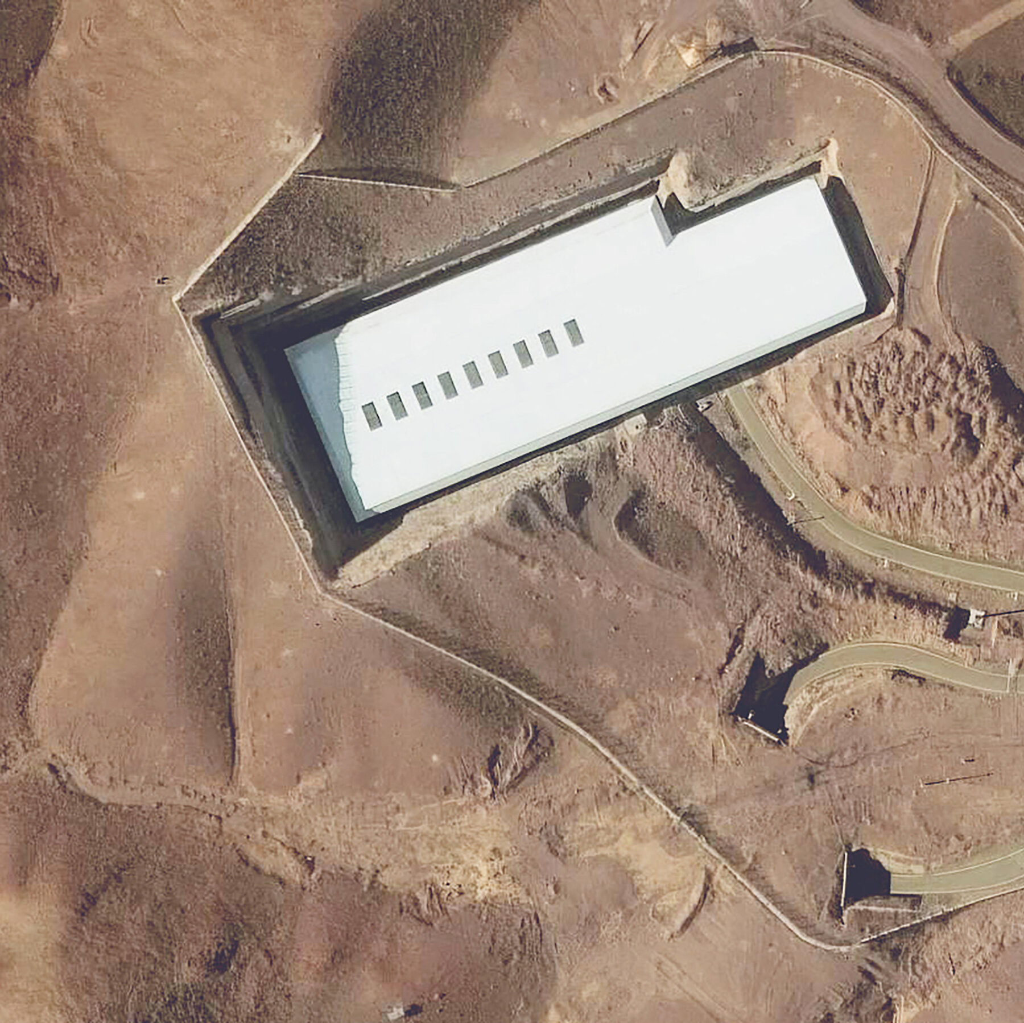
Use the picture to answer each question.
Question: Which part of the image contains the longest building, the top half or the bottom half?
top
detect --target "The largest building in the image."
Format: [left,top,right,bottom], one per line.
[285,178,865,522]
